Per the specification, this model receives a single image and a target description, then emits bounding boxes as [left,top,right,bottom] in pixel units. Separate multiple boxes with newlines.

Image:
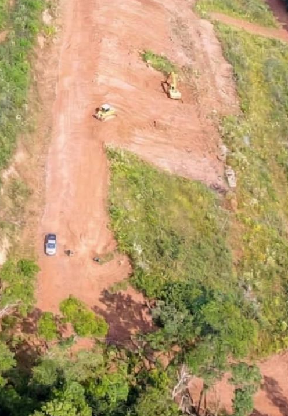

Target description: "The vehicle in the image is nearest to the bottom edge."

[45,235,57,256]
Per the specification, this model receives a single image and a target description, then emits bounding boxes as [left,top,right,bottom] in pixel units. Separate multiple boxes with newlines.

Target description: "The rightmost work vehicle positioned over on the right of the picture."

[164,68,184,103]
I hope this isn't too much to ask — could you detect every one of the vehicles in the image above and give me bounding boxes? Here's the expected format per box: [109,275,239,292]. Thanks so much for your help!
[45,235,57,256]
[164,68,184,103]
[89,102,117,124]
